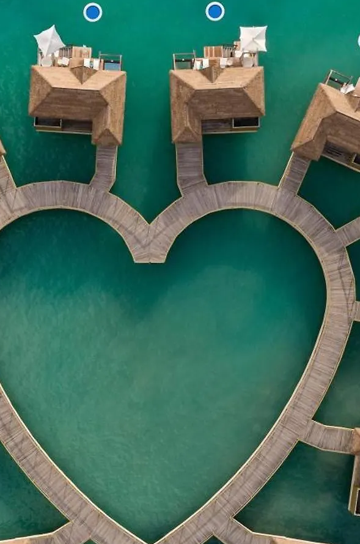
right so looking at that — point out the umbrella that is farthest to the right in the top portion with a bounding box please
[240,26,267,56]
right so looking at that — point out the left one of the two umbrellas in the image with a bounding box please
[33,25,65,56]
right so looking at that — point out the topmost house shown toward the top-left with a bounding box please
[29,41,126,145]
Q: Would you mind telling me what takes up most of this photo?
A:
water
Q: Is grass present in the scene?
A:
No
